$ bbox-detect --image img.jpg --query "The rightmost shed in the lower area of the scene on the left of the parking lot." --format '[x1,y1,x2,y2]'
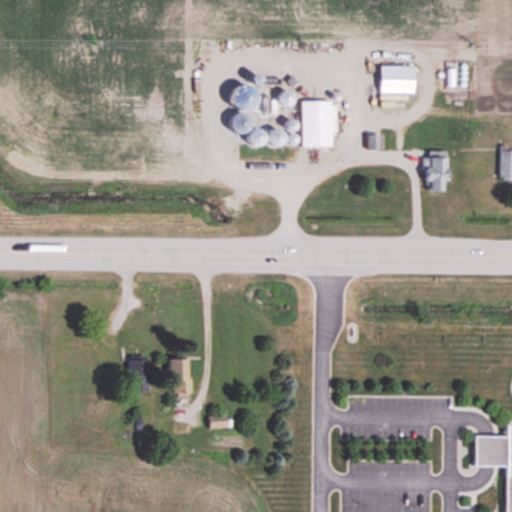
[208,416,234,430]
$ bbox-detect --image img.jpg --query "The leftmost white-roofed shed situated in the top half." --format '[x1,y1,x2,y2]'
[300,100,334,148]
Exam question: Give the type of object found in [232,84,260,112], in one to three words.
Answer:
silo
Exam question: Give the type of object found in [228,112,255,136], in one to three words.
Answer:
silo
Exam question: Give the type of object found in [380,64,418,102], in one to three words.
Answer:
barn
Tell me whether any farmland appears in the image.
Yes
